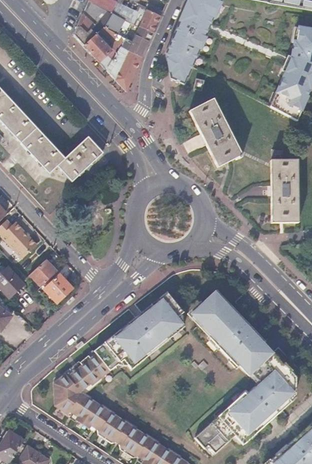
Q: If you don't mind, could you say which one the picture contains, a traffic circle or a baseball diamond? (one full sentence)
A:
Looking from above, you can make out a traffic circle.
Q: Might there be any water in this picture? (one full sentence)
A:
No, the picture contains no water.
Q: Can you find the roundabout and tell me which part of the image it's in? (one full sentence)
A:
You can find the roundabout in the center area of the picture.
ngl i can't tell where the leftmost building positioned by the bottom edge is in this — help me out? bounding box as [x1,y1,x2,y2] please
[0,430,24,464]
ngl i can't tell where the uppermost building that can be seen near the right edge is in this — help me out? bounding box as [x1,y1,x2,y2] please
[270,24,312,120]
